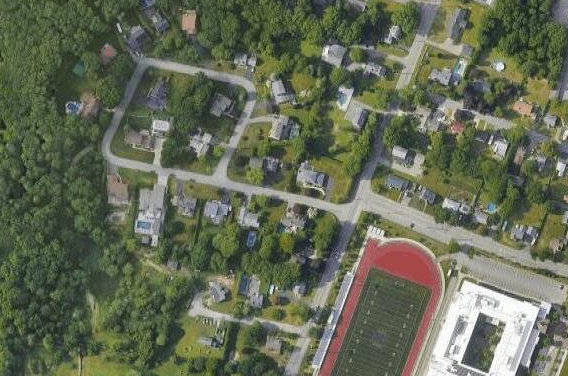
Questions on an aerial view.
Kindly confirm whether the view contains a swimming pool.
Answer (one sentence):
Yes, there's a swimming pool here.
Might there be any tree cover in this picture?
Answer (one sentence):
Yes, the picture does contain tree cover.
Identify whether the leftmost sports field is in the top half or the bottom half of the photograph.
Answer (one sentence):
You can find the leftmost sports field in the bottom half.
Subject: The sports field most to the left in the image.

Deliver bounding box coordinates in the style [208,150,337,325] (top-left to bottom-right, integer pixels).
[332,268,429,376]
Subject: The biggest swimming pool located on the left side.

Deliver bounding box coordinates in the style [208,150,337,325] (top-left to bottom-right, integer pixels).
[135,215,154,234]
